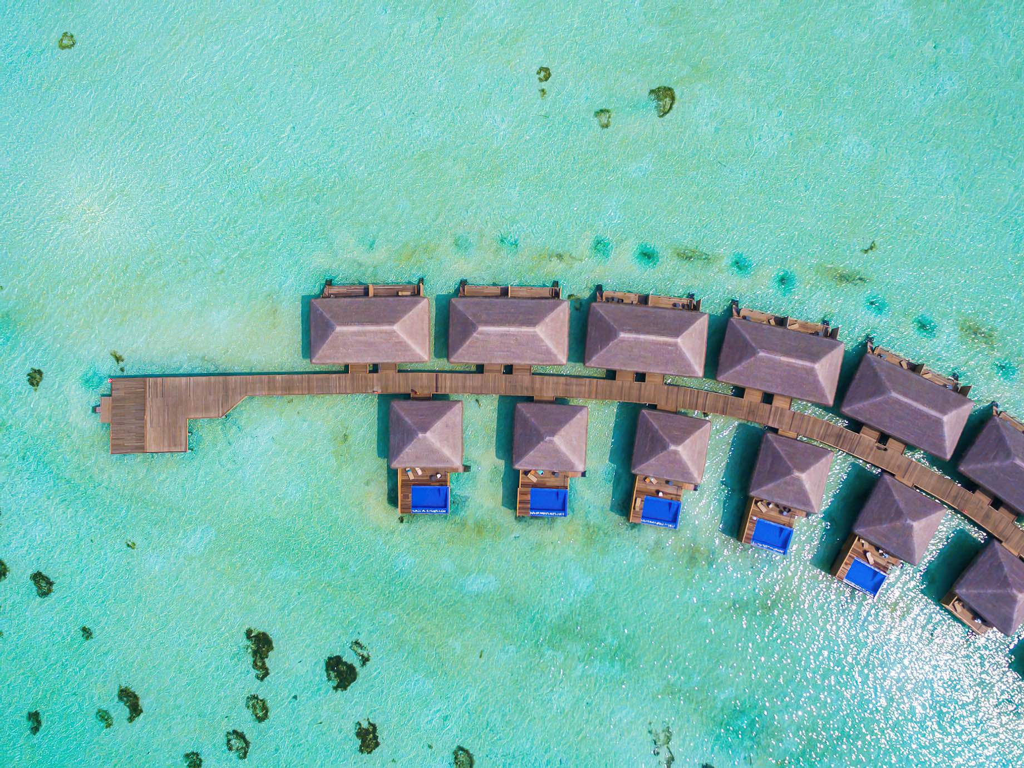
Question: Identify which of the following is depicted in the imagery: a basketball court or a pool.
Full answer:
It is a pool that can be seen here.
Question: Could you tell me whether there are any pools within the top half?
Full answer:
No, looking within the top half, there is no pool.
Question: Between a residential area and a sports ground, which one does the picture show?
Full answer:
The area seen from above is a residential area.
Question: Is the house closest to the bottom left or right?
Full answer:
You can find the house closest to the bottom on the right side of the picture.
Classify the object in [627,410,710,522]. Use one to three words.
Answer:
house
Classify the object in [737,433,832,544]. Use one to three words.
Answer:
house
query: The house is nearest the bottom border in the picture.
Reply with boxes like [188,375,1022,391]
[932,540,1024,637]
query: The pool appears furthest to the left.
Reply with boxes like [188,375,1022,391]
[411,485,450,514]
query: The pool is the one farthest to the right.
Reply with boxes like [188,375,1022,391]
[842,556,887,600]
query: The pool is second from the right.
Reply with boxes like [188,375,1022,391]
[750,518,793,555]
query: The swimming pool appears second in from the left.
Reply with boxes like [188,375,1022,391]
[529,488,568,518]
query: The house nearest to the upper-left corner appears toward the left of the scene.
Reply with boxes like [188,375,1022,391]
[311,279,429,364]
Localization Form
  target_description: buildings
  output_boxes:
[737,433,832,544]
[391,401,472,516]
[717,302,844,406]
[449,281,568,365]
[627,410,710,522]
[840,338,973,460]
[513,403,587,517]
[585,286,708,377]
[311,279,429,364]
[955,400,1024,514]
[829,475,945,581]
[932,540,1024,637]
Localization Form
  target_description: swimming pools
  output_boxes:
[529,488,568,518]
[750,518,793,555]
[411,485,450,514]
[842,556,887,600]
[641,495,681,529]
